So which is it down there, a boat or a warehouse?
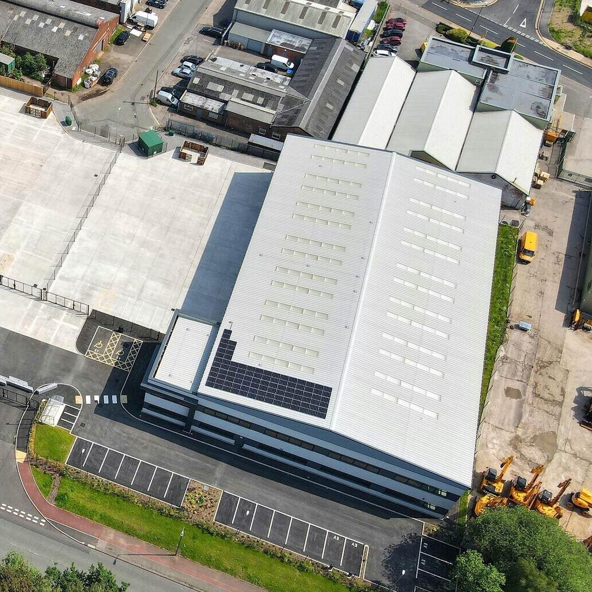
warehouse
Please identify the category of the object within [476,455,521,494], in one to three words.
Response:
work vehicle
